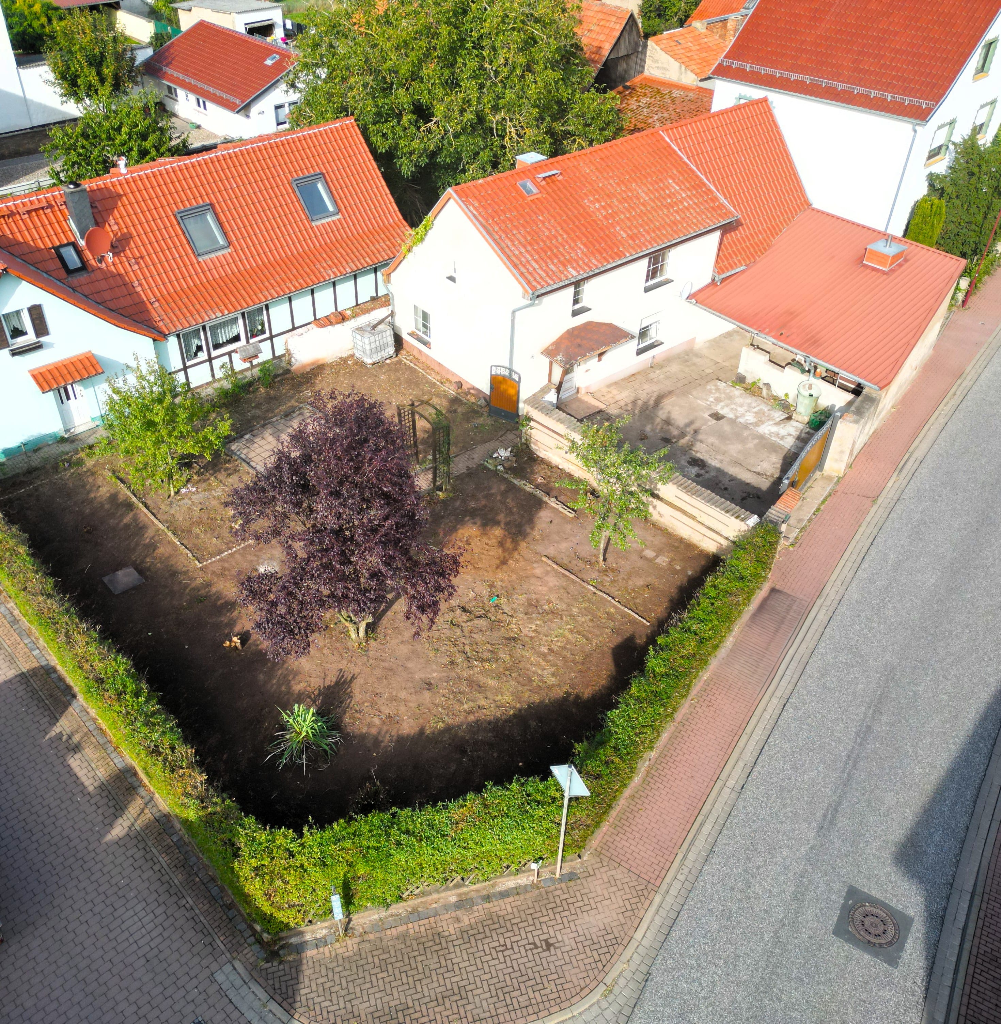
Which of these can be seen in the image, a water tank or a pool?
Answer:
water tank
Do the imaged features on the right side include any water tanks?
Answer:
No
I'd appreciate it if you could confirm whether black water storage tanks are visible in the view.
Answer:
No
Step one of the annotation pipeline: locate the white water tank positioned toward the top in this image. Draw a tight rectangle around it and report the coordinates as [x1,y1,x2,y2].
[347,315,395,366]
